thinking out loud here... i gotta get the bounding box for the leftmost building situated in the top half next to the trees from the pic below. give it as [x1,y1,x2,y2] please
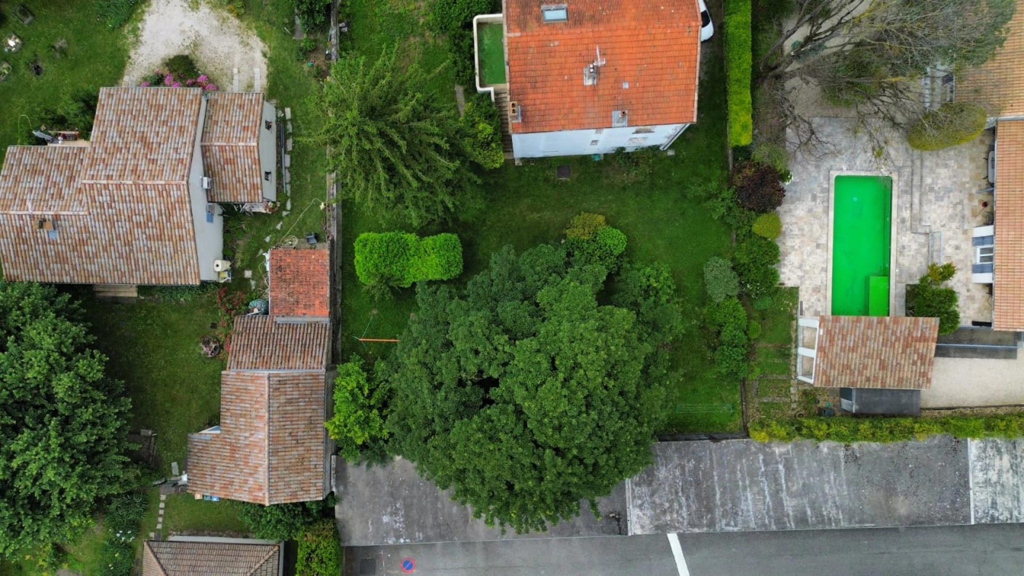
[0,85,216,299]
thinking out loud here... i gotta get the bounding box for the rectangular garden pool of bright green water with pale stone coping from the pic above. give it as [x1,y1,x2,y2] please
[828,171,898,317]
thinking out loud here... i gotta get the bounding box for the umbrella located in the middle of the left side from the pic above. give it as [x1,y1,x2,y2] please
[251,298,268,315]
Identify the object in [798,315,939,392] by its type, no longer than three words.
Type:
building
